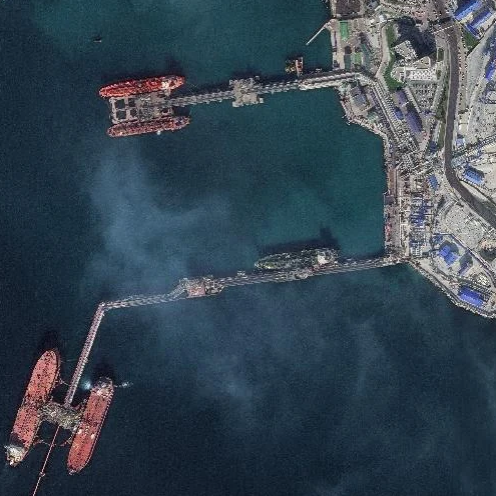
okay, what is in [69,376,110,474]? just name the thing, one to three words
ship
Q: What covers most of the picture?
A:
water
